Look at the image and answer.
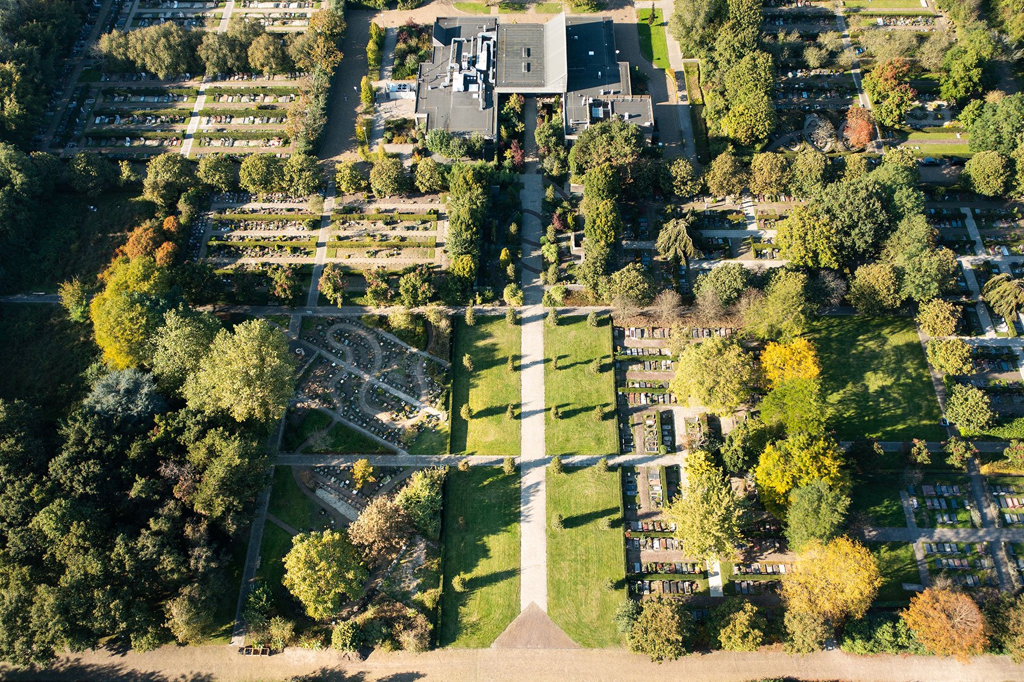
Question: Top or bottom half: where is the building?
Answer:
top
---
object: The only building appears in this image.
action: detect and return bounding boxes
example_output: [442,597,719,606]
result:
[416,9,654,150]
